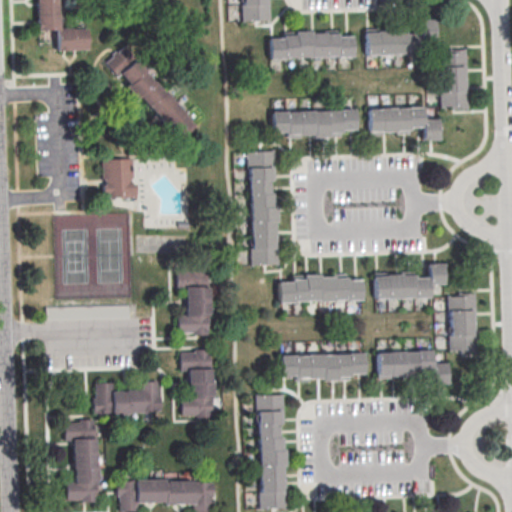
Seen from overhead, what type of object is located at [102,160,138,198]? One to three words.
house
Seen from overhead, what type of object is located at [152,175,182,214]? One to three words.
swimming pool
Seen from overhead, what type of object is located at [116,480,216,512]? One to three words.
house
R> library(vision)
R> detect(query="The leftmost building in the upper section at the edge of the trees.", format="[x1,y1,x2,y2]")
[38,0,93,51]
